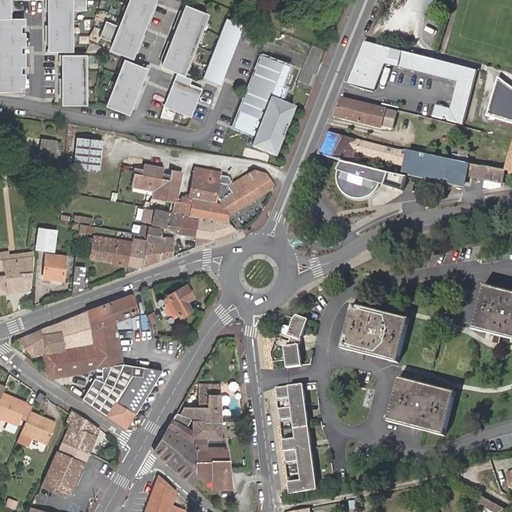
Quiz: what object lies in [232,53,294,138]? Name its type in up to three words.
building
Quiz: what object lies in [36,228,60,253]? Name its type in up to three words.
barn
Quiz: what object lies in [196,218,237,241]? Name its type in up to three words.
house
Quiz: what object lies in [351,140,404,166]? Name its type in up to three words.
house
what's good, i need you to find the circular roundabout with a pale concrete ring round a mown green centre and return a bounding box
[223,237,296,310]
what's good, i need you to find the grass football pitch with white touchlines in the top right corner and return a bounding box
[448,0,512,72]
